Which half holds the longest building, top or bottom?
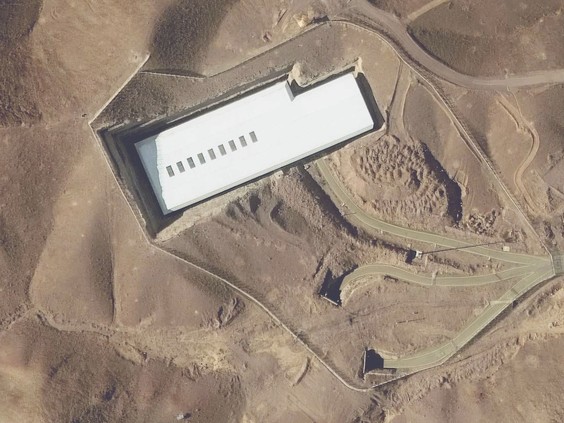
top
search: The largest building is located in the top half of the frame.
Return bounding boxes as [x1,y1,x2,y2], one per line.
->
[137,74,375,213]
